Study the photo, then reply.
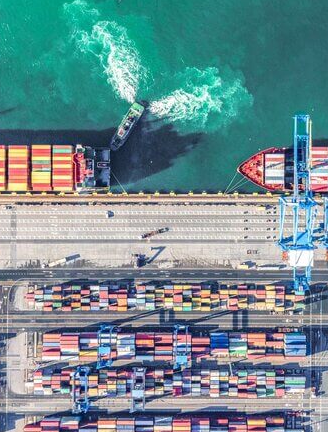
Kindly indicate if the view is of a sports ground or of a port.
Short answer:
port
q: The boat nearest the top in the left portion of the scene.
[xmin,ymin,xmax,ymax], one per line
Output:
[113,102,145,148]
